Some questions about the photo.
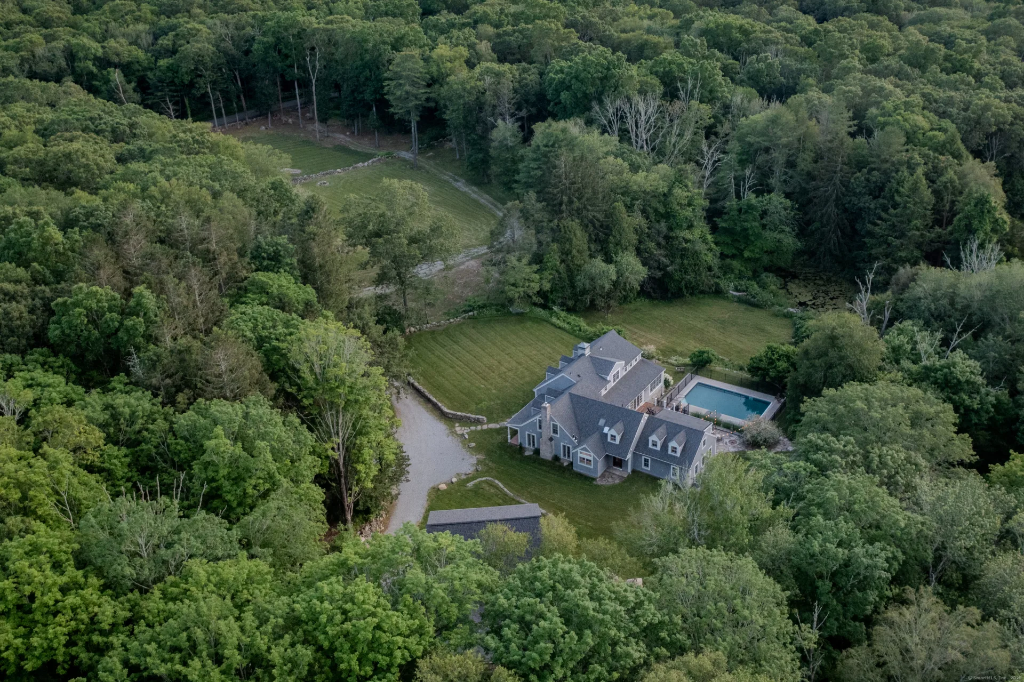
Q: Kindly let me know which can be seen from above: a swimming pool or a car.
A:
swimming pool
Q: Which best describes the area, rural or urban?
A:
rural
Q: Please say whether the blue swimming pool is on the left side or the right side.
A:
right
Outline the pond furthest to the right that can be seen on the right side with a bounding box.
[770,260,894,325]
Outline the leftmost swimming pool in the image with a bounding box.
[670,374,785,425]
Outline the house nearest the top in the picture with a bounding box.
[505,331,716,486]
